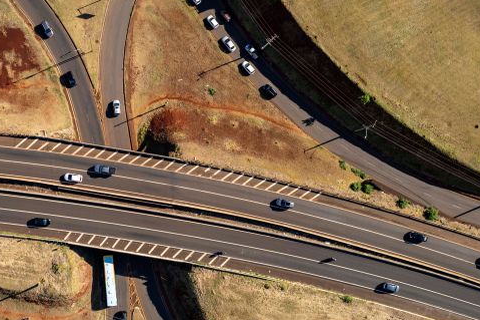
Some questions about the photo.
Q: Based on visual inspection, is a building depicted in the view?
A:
No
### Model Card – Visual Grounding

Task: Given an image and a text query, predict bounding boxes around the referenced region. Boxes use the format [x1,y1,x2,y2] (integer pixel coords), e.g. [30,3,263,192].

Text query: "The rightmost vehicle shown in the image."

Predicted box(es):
[408,231,428,244]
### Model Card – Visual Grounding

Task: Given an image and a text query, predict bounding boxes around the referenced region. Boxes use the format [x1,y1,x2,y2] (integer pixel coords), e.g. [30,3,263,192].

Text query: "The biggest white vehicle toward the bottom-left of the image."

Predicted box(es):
[102,254,118,305]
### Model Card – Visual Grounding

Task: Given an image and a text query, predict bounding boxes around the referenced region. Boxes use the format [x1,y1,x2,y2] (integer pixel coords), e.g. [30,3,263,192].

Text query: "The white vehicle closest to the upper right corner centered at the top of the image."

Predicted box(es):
[241,60,256,76]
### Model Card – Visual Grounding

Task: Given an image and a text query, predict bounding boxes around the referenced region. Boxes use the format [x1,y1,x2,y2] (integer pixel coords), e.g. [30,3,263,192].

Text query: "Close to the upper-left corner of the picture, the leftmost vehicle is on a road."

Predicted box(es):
[40,20,55,39]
